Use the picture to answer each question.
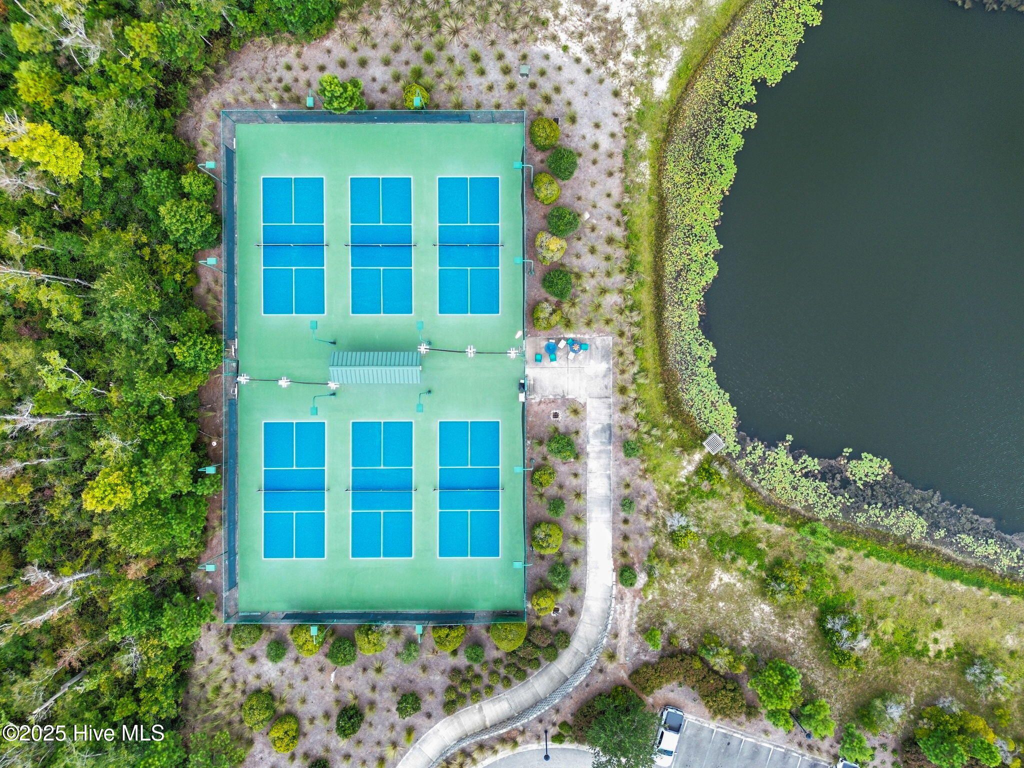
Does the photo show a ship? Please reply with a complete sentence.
No, there isn't any ship down there.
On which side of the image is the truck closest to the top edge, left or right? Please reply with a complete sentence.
You can find the truck closest to the top edge on the right side of the picture.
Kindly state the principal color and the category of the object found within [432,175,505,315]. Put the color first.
blue sports court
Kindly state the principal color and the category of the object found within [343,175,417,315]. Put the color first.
blue sports court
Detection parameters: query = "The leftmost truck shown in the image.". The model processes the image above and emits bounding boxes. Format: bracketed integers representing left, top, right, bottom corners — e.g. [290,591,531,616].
[648,698,687,762]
